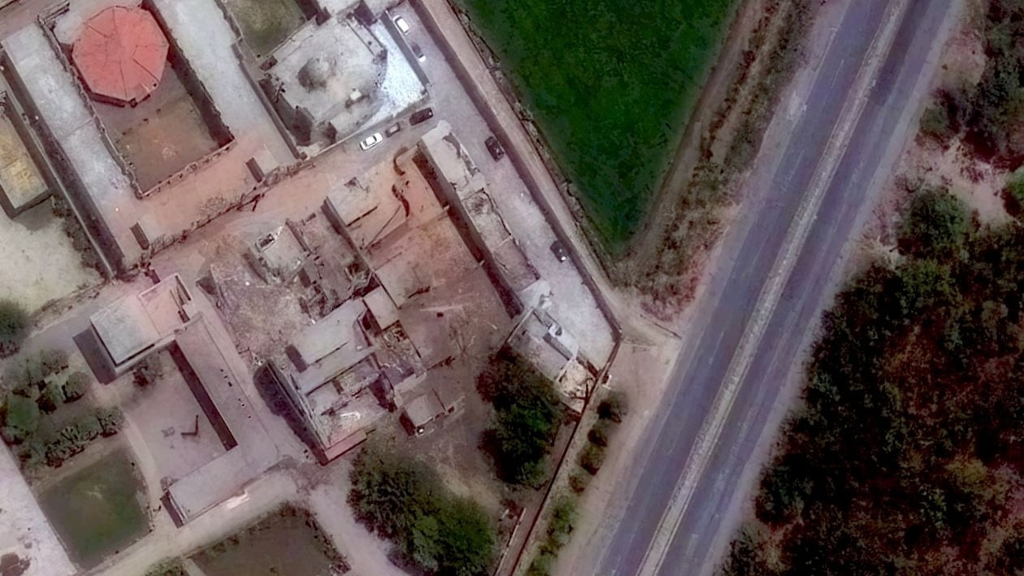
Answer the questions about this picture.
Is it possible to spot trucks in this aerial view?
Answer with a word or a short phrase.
No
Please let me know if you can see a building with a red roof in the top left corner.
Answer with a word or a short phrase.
Yes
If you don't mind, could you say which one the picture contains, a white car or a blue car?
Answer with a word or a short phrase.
white car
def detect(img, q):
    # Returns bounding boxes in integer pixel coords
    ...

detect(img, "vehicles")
[384,123,402,136]
[359,133,383,150]
[392,13,411,36]
[409,107,435,125]
[550,240,568,262]
[485,136,504,160]
[410,40,427,62]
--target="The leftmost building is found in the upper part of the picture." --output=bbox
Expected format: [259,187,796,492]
[0,94,51,214]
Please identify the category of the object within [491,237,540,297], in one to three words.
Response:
house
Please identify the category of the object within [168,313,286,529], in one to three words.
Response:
building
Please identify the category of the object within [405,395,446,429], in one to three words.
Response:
shed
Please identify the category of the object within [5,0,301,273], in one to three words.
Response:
building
